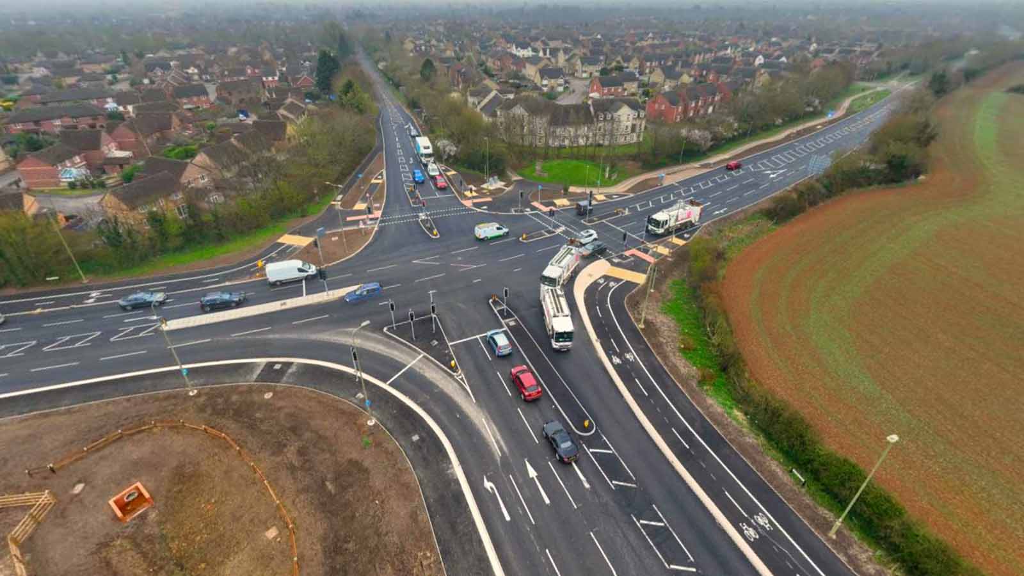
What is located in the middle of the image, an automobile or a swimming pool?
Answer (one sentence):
Looking in the middle of the image, you will find an automobile.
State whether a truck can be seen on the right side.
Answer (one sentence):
Yes, a truck appears on the right side.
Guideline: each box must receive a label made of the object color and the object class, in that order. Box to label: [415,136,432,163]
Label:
white vehicle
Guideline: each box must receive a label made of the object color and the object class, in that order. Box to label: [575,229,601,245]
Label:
white car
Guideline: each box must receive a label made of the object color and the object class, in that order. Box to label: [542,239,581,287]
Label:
white truck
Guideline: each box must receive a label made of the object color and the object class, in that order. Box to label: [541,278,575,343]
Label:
white truck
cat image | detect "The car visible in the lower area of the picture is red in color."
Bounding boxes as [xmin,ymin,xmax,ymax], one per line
[511,368,543,403]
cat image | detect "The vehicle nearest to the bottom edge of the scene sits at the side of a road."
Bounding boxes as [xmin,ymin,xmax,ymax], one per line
[542,422,582,468]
